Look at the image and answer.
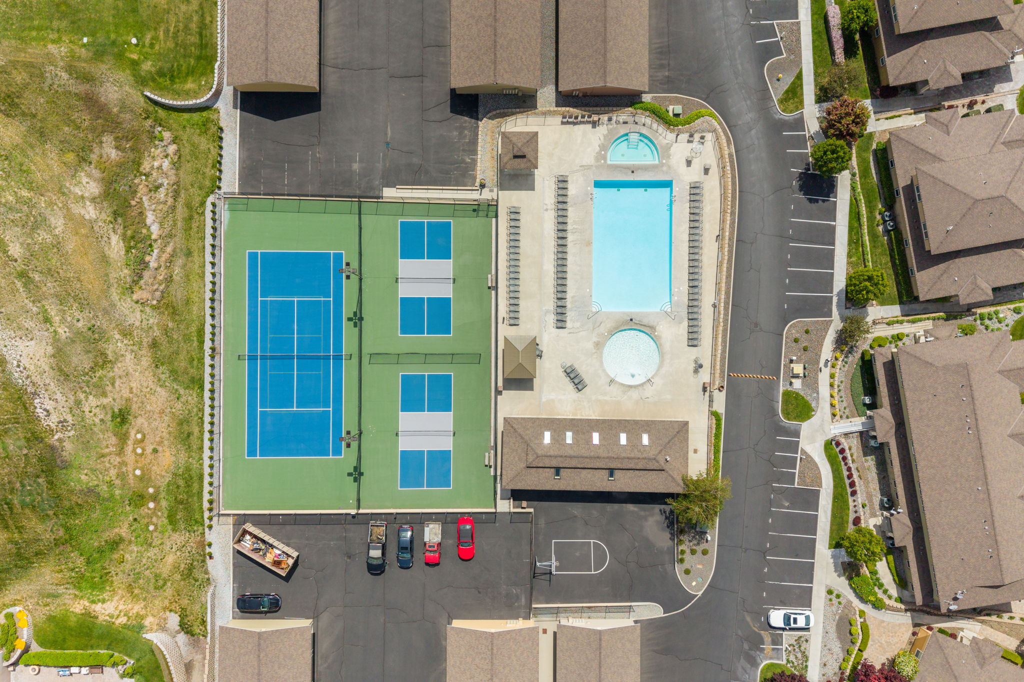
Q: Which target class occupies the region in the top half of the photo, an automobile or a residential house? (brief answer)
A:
residential house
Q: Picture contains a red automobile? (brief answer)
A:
Yes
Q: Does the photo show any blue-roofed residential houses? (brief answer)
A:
No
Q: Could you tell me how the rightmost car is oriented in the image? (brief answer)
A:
from left to right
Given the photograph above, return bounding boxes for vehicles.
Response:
[767,608,813,630]
[366,518,388,573]
[423,519,443,567]
[396,525,415,568]
[457,516,476,559]
[237,592,282,614]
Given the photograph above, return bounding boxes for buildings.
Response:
[503,335,537,379]
[899,627,1024,682]
[450,0,541,96]
[557,615,640,682]
[883,107,1024,305]
[227,0,321,92]
[558,0,648,97]
[219,618,314,682]
[501,417,689,492]
[447,617,539,682]
[871,0,1024,90]
[500,131,539,171]
[869,324,1024,613]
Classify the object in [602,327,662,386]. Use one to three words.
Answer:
swimming pool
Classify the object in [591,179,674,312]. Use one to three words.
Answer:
swimming pool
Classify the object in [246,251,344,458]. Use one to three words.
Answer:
tennis court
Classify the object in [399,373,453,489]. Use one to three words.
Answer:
sports court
